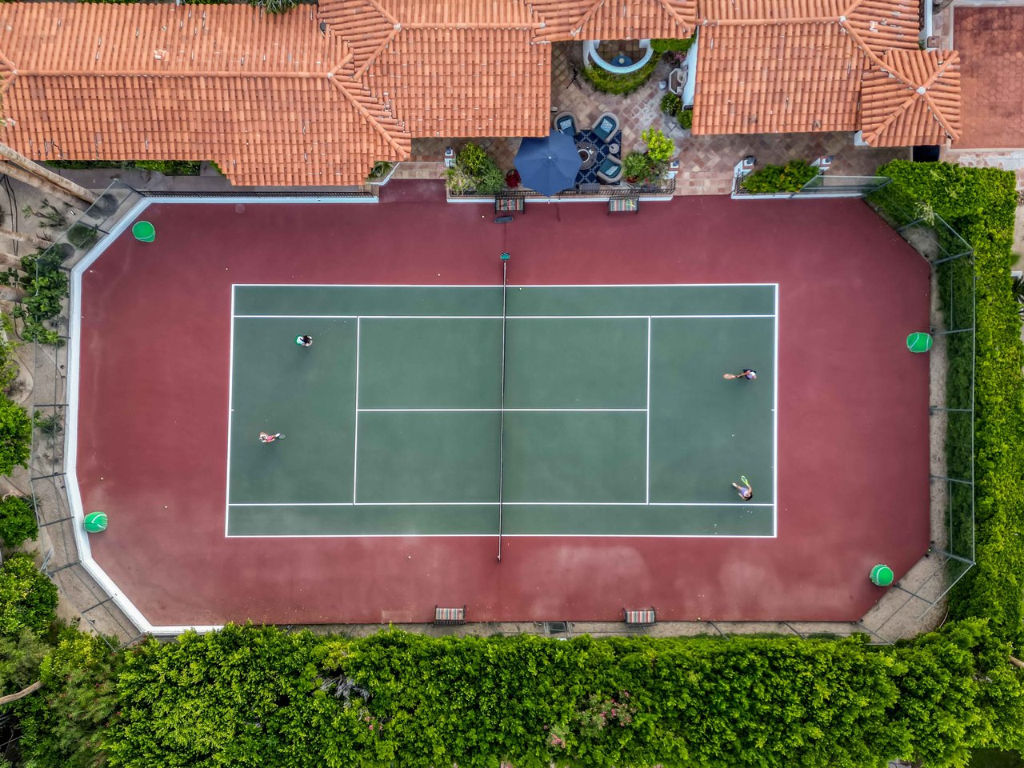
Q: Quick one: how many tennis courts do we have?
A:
one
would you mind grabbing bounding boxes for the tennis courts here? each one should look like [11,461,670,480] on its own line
[76,180,932,626]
